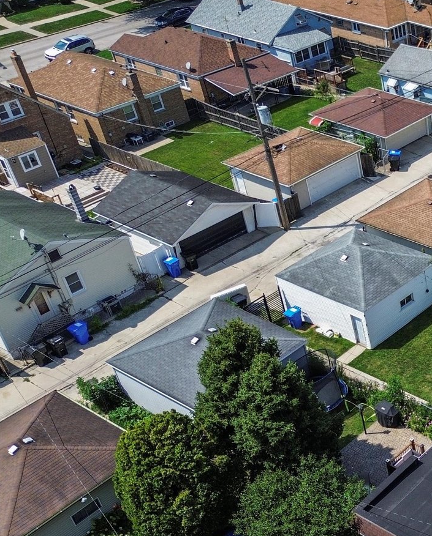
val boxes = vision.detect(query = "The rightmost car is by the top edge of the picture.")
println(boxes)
[157,0,198,26]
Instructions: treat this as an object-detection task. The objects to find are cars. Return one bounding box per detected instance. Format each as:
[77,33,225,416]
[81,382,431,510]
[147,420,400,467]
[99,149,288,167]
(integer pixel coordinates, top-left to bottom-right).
[157,0,198,26]
[46,33,100,62]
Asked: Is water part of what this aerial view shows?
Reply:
No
